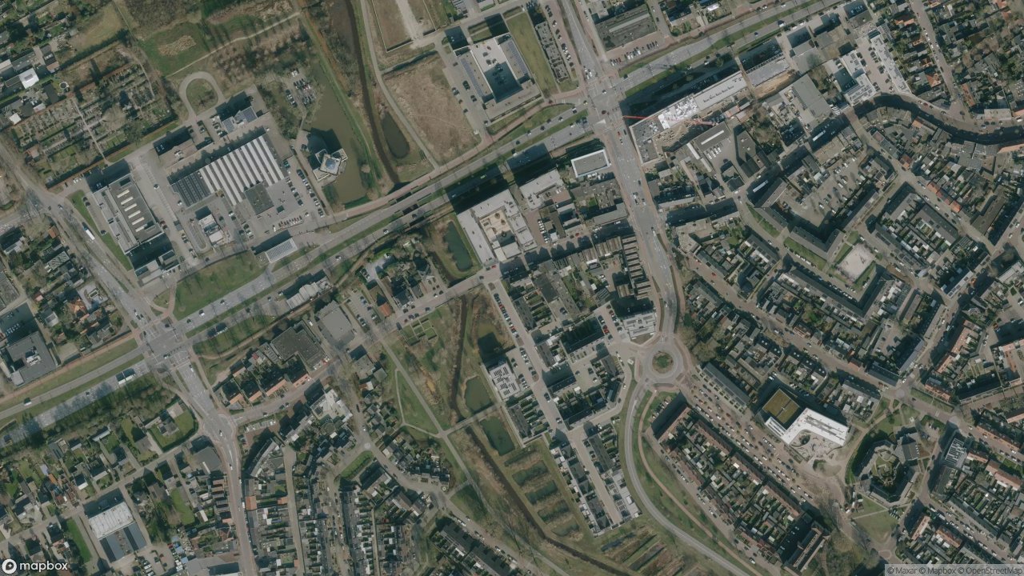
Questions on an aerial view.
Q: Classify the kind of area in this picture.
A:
residential area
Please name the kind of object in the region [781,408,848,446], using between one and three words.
building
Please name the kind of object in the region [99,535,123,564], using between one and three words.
house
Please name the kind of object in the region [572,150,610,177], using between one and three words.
building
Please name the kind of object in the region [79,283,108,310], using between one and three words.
house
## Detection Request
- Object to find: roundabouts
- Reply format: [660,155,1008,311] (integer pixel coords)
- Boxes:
[643,342,684,382]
